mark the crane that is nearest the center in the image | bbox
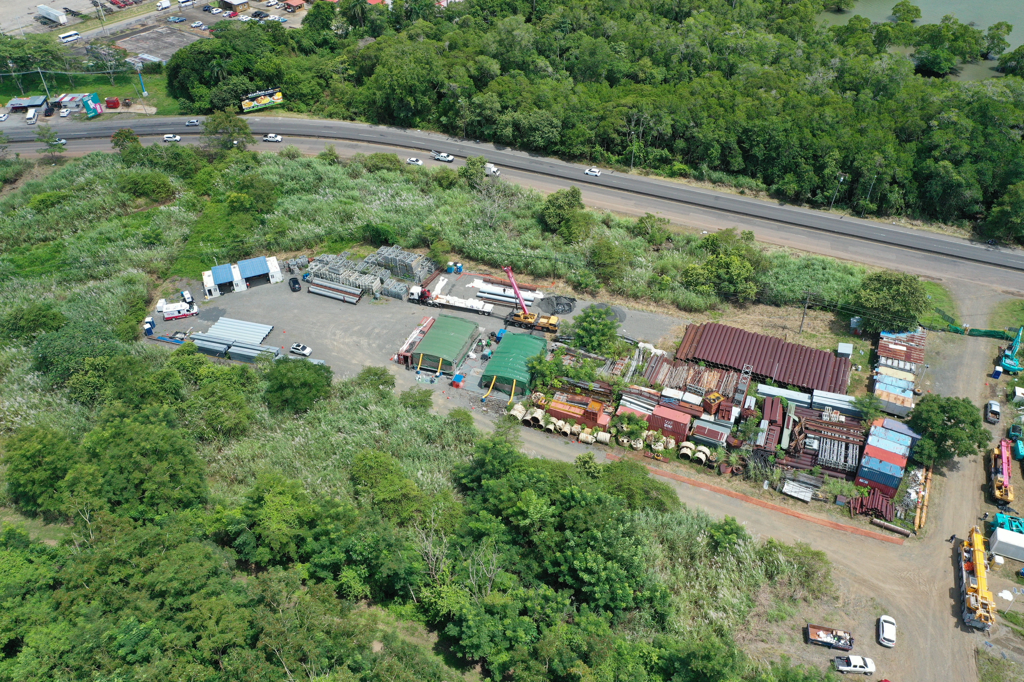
[502,261,563,333]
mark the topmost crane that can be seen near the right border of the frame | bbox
[988,433,1018,502]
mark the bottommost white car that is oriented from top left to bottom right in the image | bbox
[875,616,901,648]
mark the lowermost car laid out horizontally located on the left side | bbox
[288,342,313,356]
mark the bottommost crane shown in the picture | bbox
[962,526,994,621]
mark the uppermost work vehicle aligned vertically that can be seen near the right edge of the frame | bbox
[998,341,1019,386]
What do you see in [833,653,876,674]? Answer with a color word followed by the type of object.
white truck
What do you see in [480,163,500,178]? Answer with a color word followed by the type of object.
white vehicle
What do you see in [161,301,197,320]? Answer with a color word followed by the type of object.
white vehicle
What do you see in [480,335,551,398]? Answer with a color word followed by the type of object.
green tent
